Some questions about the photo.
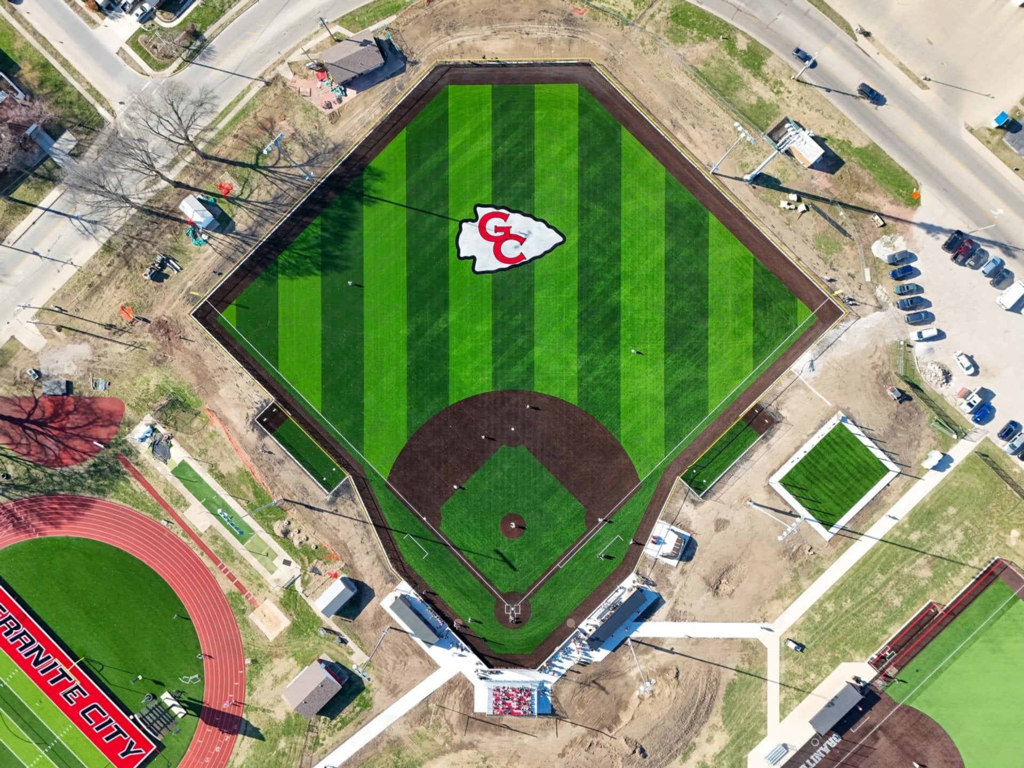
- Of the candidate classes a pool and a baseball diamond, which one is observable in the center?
baseball diamond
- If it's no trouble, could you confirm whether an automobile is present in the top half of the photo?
Yes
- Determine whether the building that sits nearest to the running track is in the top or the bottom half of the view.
bottom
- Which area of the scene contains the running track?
bottom left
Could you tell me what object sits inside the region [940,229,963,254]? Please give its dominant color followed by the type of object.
black truck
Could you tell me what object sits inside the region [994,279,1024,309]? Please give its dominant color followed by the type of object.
white van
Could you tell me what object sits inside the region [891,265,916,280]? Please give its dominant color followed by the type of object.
blue car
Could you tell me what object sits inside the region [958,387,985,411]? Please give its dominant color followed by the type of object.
white truck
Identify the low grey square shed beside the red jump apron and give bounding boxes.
[43,379,70,395]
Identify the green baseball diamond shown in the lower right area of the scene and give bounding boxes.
[785,557,1024,768]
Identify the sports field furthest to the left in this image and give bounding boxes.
[0,533,204,768]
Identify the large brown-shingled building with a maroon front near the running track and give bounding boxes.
[284,652,343,719]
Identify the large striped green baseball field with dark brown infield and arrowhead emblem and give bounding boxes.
[192,64,841,669]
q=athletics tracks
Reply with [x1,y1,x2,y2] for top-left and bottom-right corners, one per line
[0,493,243,768]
